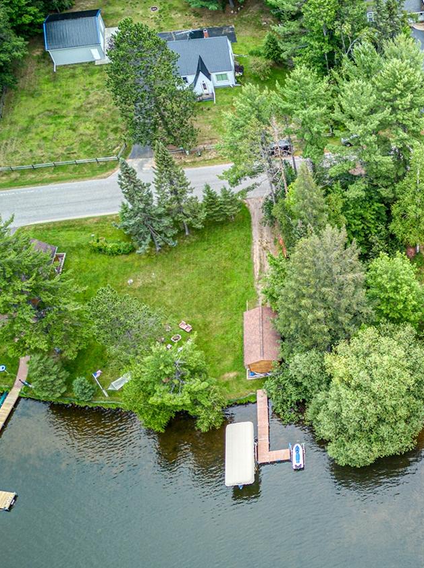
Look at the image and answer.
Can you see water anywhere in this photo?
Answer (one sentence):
Yes, water shows up in the scene.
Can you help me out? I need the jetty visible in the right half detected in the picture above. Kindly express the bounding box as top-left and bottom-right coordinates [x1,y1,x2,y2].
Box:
[256,387,291,467]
